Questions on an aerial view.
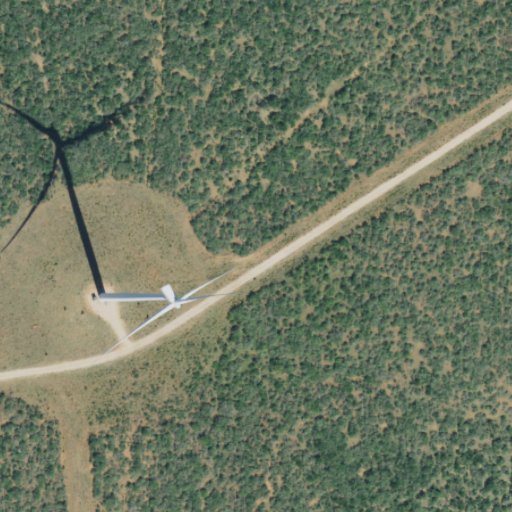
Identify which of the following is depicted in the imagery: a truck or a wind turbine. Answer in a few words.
wind turbine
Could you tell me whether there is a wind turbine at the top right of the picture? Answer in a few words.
No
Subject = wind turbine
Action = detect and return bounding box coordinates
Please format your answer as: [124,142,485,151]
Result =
[96,266,240,362]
